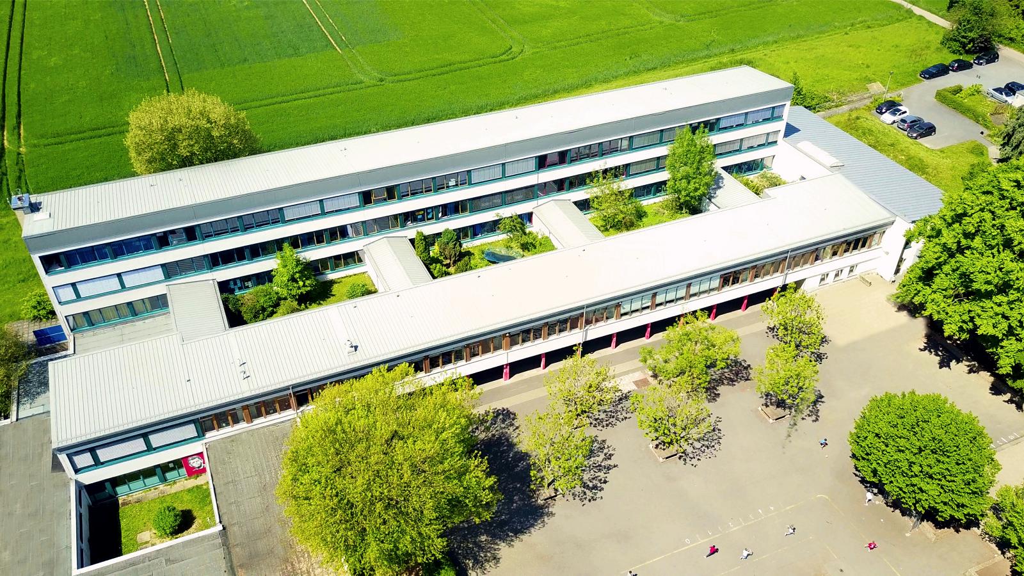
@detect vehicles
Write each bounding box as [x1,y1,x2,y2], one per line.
[1003,78,1024,92]
[884,104,915,122]
[977,49,1002,64]
[909,118,941,137]
[923,63,952,78]
[950,58,975,71]
[875,97,906,112]
[989,87,1021,105]
[899,113,926,129]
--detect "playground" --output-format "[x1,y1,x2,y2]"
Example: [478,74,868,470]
[334,275,1024,576]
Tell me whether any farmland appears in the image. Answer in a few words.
Yes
